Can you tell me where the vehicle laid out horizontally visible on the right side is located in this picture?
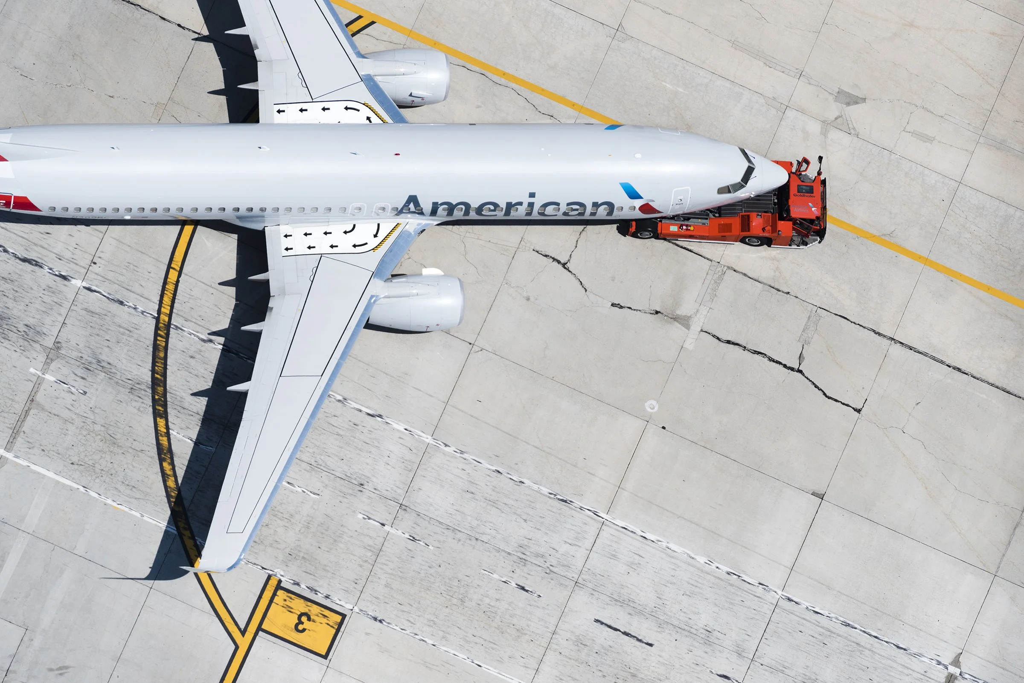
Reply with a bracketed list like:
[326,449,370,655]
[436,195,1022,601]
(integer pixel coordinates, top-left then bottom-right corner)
[616,152,827,247]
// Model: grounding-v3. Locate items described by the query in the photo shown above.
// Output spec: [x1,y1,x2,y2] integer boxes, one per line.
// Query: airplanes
[0,0,786,570]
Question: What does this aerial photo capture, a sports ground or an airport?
airport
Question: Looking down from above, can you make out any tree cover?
No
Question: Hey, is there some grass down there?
No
